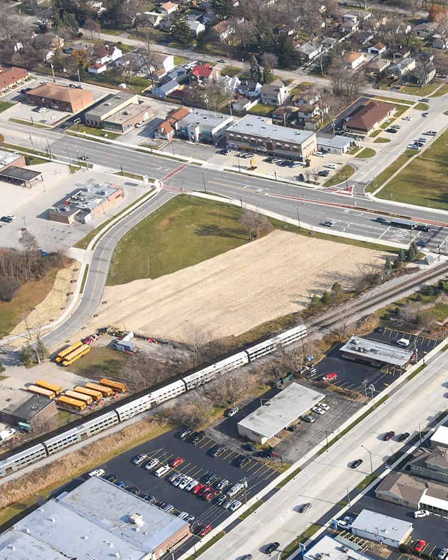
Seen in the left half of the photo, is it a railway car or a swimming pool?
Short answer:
railway car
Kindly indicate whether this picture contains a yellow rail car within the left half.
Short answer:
No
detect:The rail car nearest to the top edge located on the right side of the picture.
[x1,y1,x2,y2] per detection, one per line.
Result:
[243,324,309,365]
